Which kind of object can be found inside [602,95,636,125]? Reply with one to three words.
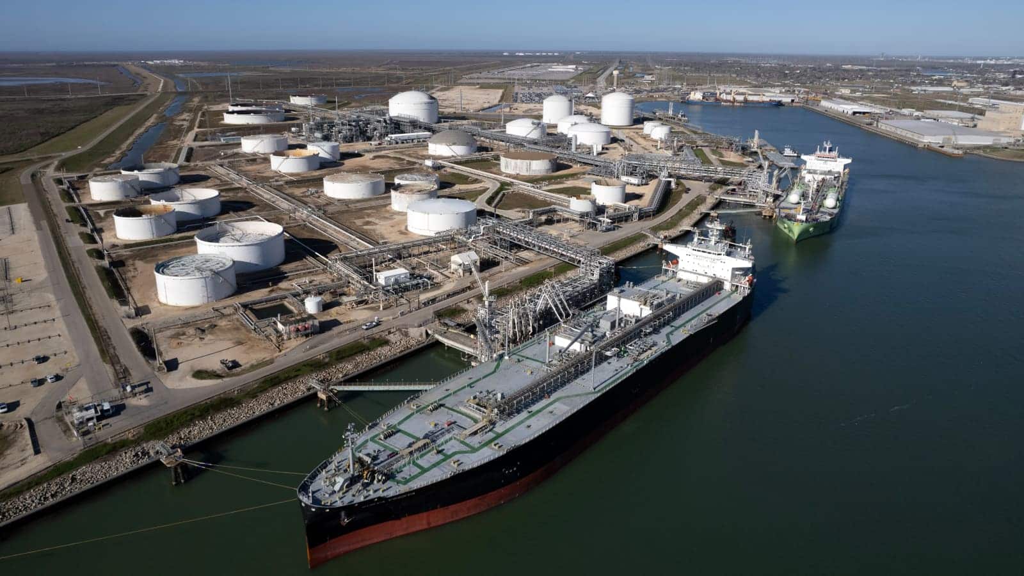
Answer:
storage tank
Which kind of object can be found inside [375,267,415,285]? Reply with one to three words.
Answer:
building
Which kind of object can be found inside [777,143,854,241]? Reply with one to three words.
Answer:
ship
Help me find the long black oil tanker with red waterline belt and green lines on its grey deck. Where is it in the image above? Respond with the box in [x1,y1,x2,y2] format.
[296,219,768,569]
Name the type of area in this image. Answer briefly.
port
